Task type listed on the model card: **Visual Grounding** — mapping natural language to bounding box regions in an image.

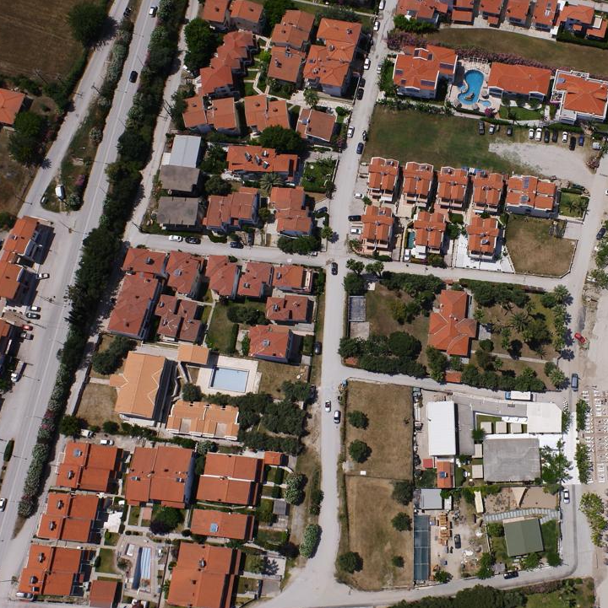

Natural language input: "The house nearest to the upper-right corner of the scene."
[557,5,608,42]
